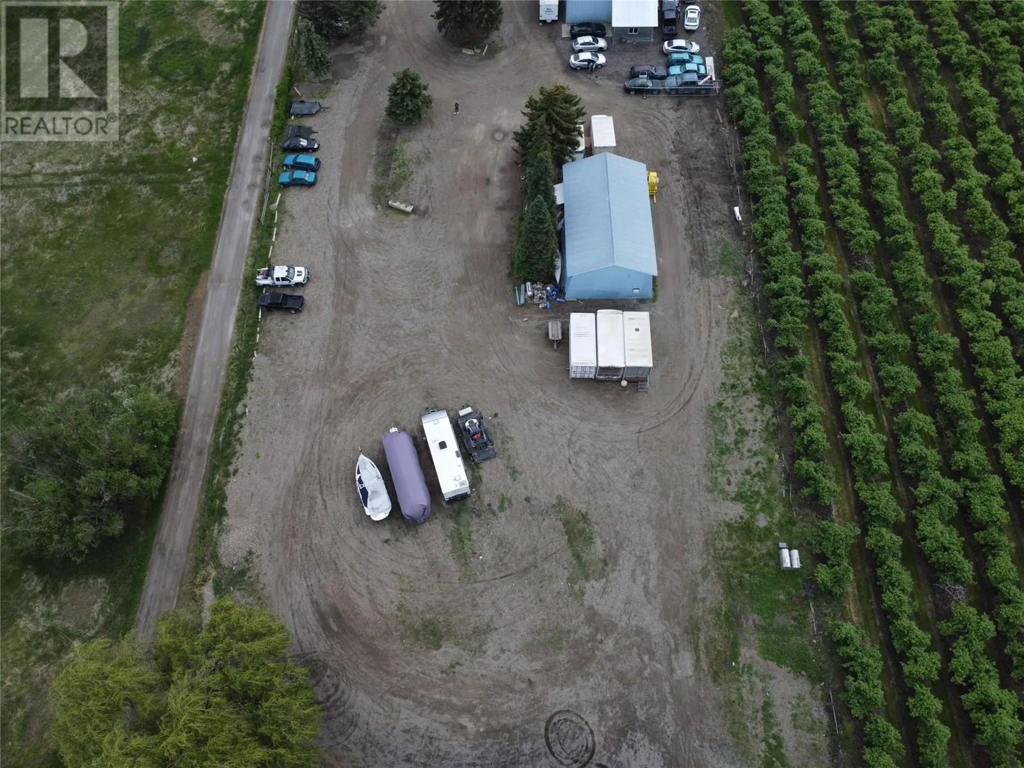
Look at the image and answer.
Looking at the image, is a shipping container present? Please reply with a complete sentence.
Yes, the frame does contain a shipping container.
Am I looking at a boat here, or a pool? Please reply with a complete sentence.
It is a boat that can be seen here.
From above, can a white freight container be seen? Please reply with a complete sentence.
Yes, there's a white freight container here.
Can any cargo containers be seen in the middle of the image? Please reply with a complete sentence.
Yes, a cargo container can be seen in the middle of the image.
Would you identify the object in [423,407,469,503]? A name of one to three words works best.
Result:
trailer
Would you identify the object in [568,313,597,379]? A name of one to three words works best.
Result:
shipping container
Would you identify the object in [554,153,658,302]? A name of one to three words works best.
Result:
building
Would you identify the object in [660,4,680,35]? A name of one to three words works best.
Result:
vehicle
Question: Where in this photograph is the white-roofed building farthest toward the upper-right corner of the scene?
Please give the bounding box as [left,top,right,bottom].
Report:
[610,0,658,46]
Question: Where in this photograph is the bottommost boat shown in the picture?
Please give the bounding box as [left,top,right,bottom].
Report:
[355,445,391,525]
